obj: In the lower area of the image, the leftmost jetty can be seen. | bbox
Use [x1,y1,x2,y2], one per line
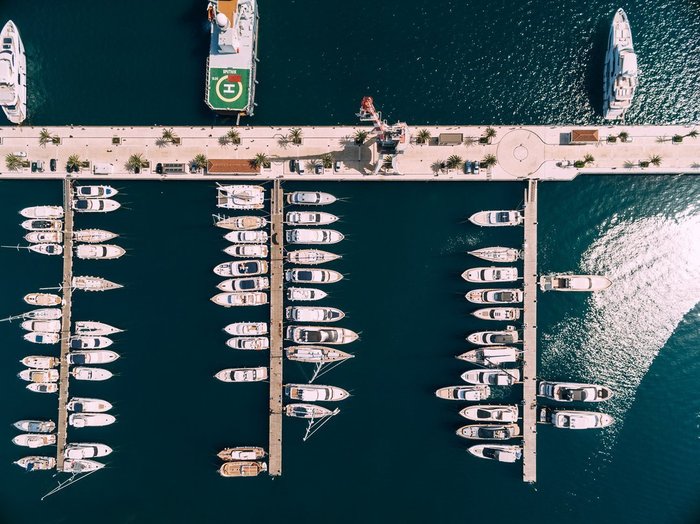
[56,182,75,471]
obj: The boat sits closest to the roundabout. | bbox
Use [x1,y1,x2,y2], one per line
[460,208,526,228]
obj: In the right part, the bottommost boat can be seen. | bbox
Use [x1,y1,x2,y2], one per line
[458,443,522,463]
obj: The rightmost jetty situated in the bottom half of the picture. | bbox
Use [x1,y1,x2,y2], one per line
[522,203,537,482]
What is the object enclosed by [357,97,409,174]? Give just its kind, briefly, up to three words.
crane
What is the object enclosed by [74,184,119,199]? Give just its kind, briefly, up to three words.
boat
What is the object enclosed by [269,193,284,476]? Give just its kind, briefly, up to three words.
pier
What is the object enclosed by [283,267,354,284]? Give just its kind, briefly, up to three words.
boat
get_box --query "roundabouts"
[496,128,545,177]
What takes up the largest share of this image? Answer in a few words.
water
